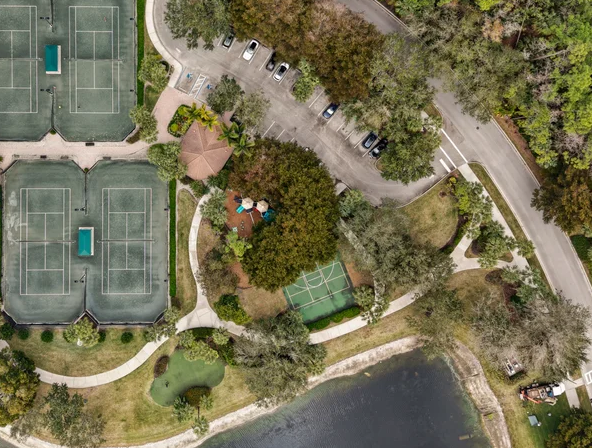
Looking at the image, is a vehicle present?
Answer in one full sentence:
Yes, the picture does show a vehicle.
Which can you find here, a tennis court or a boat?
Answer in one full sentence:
Of the two, only a tennis court appears.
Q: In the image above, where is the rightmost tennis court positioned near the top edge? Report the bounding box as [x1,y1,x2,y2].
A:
[53,0,135,140]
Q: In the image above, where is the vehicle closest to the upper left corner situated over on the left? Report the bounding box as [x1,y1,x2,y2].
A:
[221,28,236,48]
